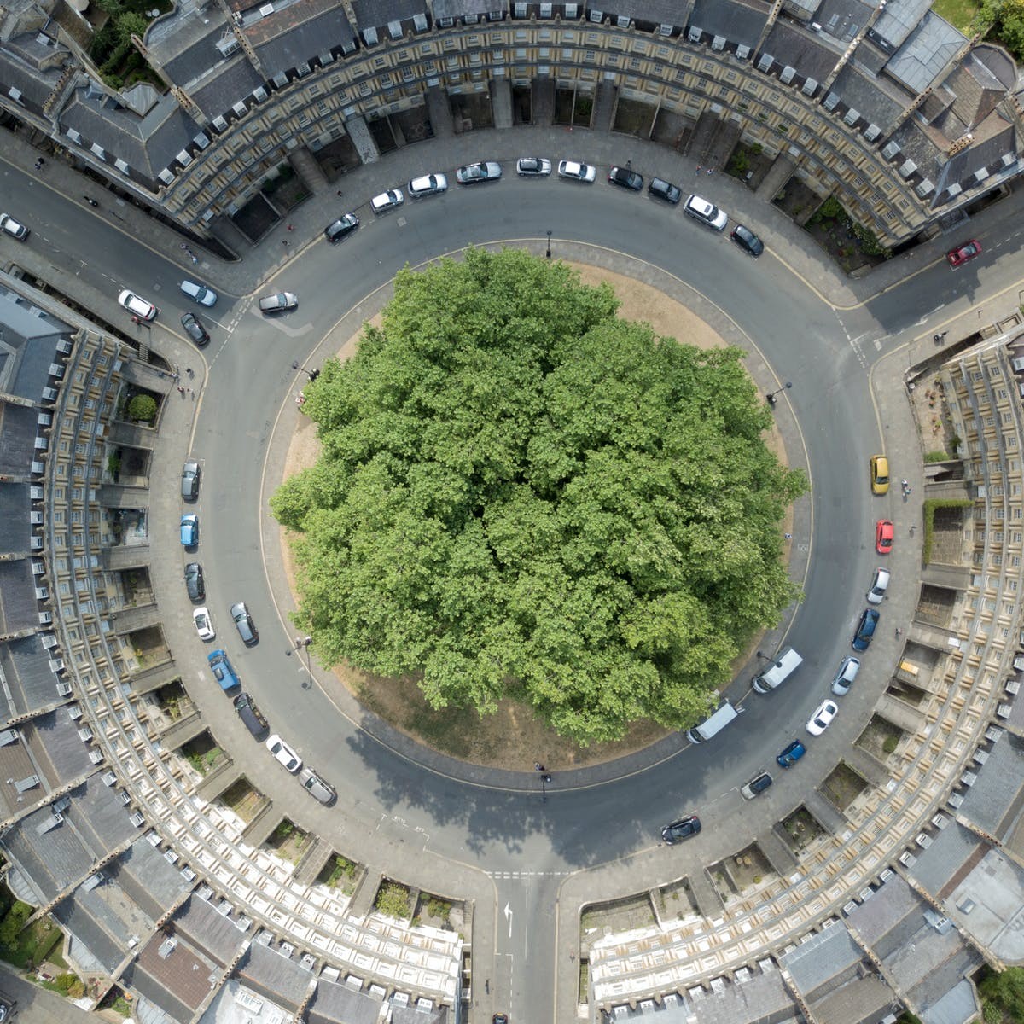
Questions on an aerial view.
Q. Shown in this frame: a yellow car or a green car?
yellow car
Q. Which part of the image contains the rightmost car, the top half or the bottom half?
top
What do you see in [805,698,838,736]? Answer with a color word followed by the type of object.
white car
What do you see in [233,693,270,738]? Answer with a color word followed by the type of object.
gray van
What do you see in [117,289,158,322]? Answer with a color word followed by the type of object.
white car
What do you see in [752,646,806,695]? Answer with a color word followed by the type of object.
white van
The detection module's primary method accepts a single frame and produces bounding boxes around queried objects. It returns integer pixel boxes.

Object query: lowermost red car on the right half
[874,519,895,554]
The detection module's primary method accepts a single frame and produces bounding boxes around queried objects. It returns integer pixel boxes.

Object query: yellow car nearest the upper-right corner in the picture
[868,456,891,493]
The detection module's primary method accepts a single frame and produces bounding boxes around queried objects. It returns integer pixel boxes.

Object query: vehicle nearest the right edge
[944,240,982,268]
